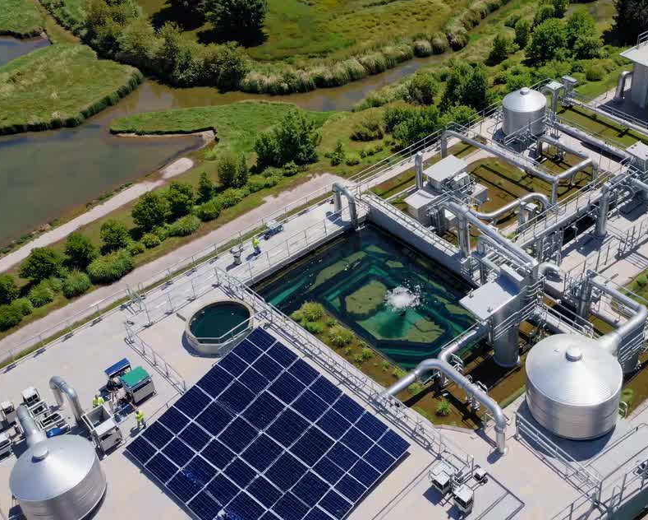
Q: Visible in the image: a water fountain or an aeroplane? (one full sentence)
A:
The one in the frame is a water fountain.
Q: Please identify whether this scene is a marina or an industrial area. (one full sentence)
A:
What you see here is an industrial area.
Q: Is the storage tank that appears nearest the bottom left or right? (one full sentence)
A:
The storage tank that appears nearest the bottom is on the left side of the image.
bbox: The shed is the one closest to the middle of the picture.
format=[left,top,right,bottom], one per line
[404,190,436,224]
